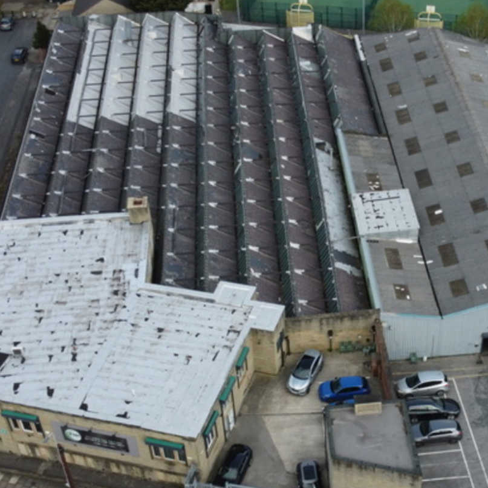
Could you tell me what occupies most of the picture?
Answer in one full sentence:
Most of the picture is covered by buildings.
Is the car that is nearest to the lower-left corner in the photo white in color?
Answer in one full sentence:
No, the car that is nearest to the lower-left corner is black.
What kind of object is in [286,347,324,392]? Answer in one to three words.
car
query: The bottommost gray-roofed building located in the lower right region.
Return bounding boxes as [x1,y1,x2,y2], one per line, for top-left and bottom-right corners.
[324,399,423,488]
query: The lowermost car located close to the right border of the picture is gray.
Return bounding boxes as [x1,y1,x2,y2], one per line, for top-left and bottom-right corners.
[413,423,466,453]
